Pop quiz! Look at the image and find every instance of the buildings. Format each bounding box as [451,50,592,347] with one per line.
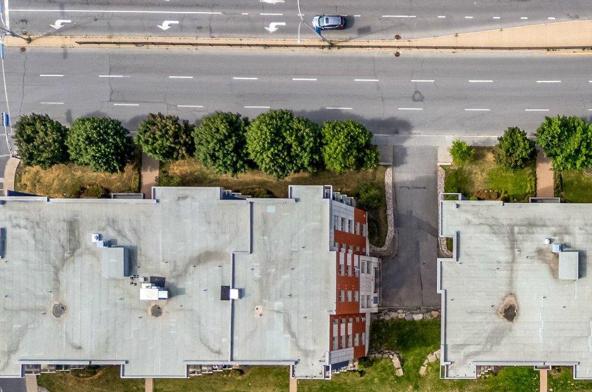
[0,186,384,379]
[437,192,592,379]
